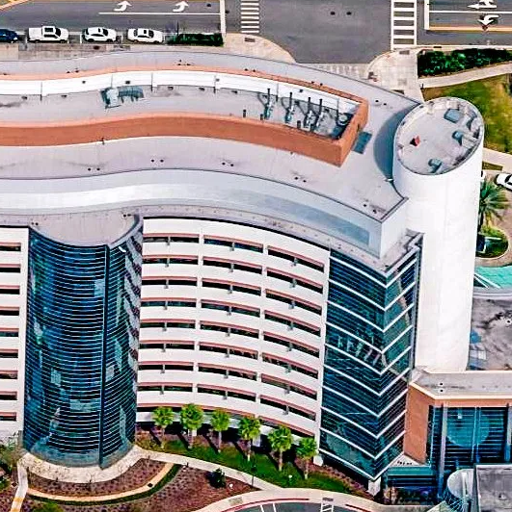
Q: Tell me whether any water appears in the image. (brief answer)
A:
No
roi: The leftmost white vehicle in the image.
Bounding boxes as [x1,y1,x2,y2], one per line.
[27,25,69,42]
